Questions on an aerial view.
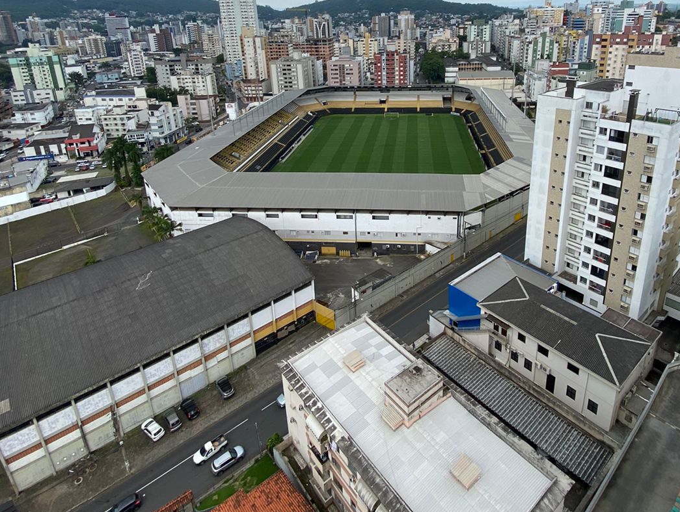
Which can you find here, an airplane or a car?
car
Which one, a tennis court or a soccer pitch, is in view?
soccer pitch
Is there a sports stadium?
Yes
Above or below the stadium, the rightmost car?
below it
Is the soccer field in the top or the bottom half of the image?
top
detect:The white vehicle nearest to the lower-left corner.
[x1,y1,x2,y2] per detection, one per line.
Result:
[139,420,166,445]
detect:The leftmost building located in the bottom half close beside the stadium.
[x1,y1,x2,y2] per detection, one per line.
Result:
[0,212,322,493]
